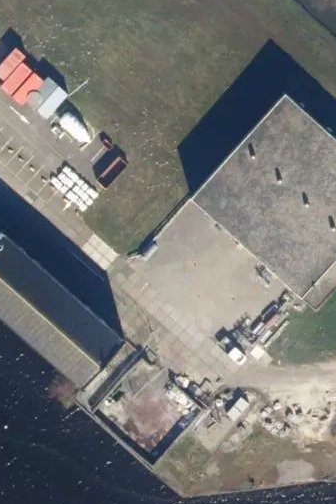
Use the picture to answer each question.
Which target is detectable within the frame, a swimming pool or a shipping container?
shipping container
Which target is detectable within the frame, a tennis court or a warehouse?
warehouse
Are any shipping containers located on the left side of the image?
Yes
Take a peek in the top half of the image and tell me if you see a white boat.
Yes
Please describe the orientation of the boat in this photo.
diagonally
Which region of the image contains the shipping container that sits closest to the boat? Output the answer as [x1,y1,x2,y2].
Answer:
[37,84,69,119]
